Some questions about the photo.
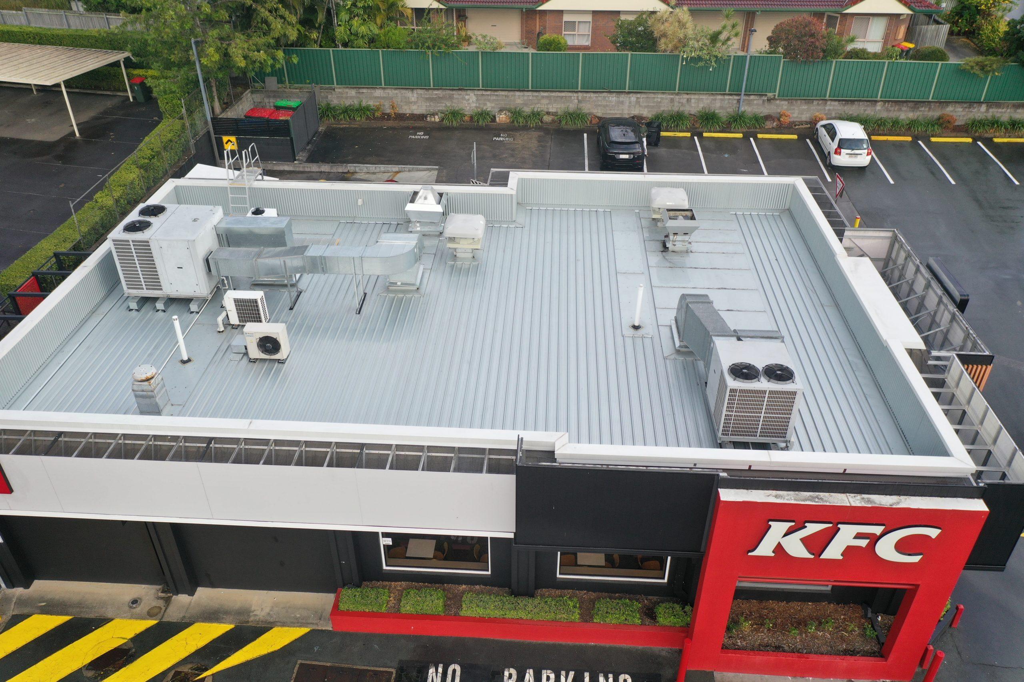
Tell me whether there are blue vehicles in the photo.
No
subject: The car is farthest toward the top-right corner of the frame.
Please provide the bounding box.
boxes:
[817,122,875,170]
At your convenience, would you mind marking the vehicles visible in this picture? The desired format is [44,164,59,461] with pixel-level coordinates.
[817,122,875,170]
[598,116,668,169]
